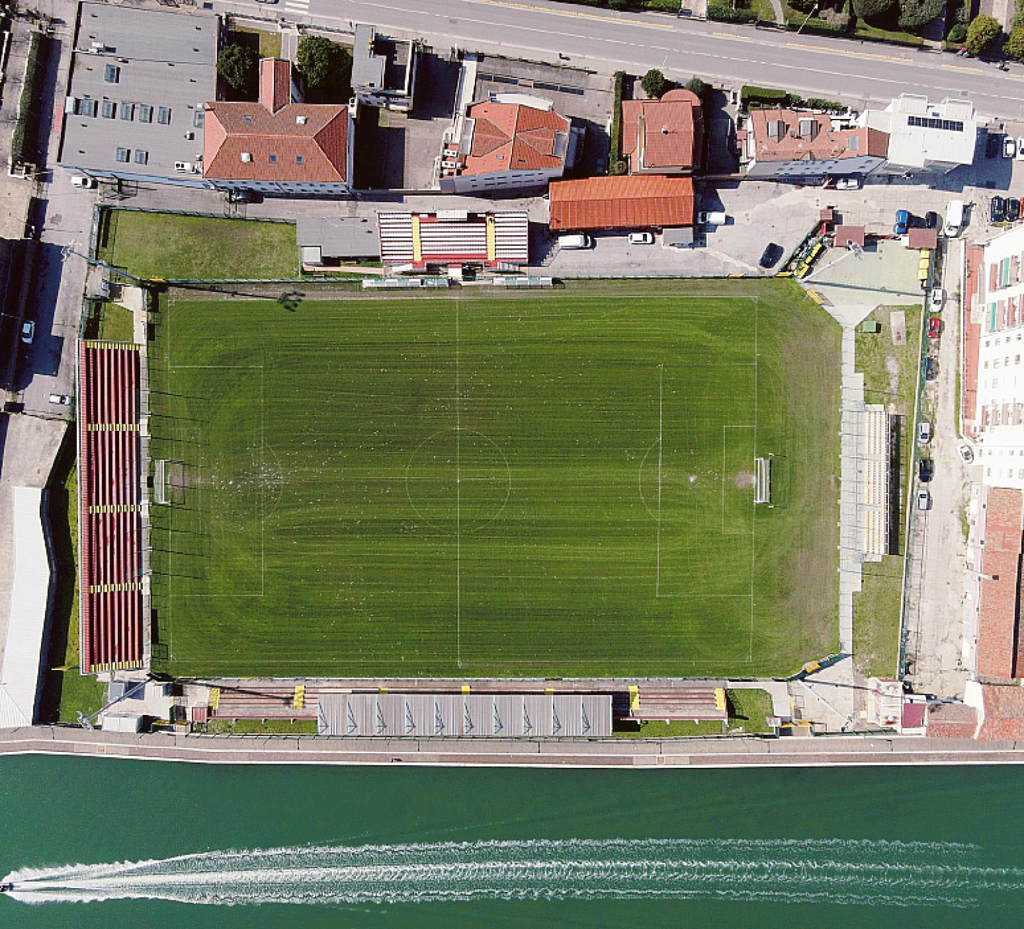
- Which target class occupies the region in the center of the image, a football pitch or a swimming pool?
football pitch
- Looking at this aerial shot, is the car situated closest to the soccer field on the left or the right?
right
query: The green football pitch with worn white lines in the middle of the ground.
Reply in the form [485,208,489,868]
[149,279,840,678]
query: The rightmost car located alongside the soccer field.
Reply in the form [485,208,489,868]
[761,243,781,269]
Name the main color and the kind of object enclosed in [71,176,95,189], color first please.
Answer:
white vehicle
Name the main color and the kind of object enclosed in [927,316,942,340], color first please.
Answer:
red car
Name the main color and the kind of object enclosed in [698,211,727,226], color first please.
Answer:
white vehicle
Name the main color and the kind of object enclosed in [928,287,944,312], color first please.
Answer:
white car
